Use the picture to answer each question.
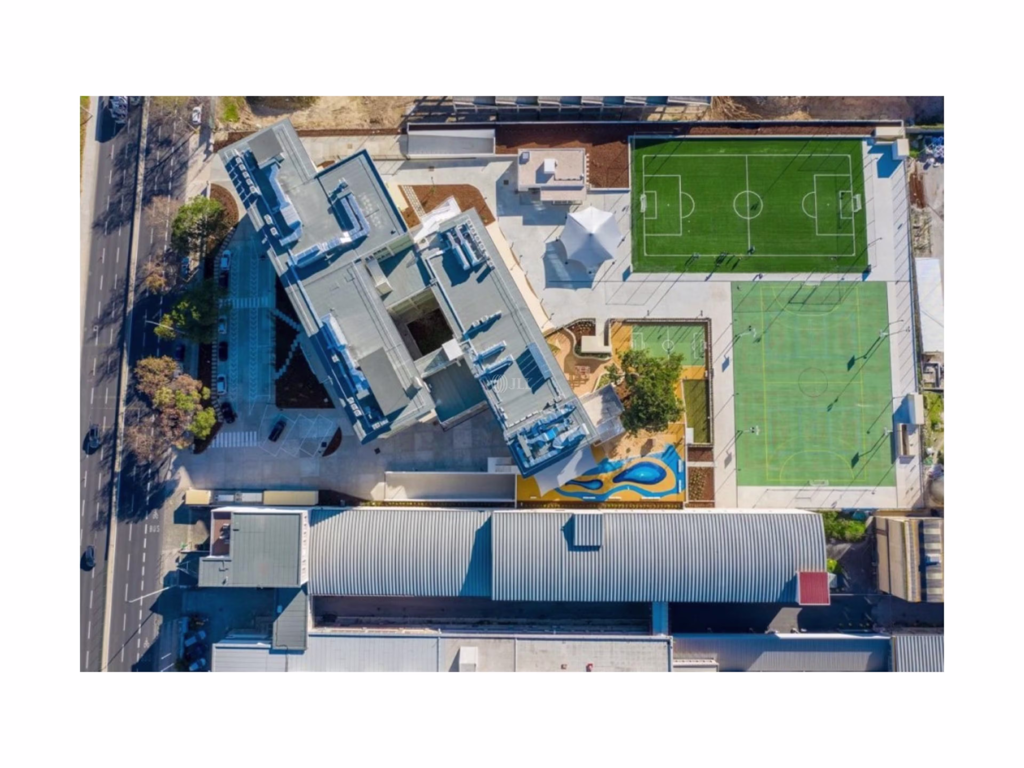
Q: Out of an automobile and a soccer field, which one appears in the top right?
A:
soccer field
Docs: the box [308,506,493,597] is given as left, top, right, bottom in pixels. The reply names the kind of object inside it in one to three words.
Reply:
building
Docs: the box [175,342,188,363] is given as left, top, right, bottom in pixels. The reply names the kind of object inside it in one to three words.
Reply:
vehicle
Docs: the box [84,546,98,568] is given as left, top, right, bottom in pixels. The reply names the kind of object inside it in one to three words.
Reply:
car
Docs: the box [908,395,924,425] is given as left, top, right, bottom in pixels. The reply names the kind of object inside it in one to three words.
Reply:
building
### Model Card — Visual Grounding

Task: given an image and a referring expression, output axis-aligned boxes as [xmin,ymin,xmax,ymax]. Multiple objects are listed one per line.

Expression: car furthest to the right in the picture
[269,421,287,442]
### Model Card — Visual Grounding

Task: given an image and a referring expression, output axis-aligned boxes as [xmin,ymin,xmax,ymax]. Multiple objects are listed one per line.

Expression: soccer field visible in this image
[631,139,868,273]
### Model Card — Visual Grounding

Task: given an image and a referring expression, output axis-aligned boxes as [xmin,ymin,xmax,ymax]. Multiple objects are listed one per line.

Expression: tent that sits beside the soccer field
[556,201,625,275]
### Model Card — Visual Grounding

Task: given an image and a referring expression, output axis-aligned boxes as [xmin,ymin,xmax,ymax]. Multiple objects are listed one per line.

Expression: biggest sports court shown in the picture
[731,281,896,487]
